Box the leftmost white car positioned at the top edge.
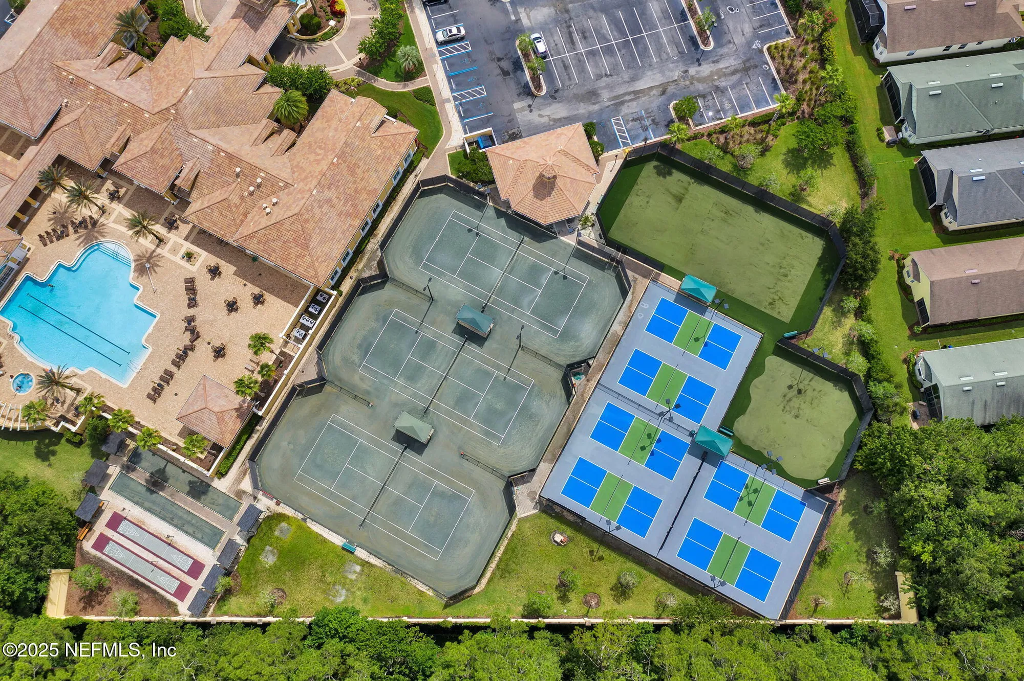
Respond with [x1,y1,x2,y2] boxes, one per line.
[436,27,466,43]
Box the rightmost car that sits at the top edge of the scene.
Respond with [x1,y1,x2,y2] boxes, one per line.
[530,33,549,57]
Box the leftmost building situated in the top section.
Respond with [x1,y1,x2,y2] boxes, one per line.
[0,230,29,290]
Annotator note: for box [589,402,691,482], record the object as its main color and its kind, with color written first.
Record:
blue sports court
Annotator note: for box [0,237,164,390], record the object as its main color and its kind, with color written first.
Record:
blue swimming pool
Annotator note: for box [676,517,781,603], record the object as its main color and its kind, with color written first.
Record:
blue sports court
